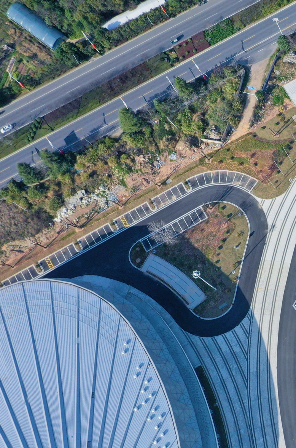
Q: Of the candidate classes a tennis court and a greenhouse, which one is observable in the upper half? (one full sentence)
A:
The feature located in the upper half is a greenhouse.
